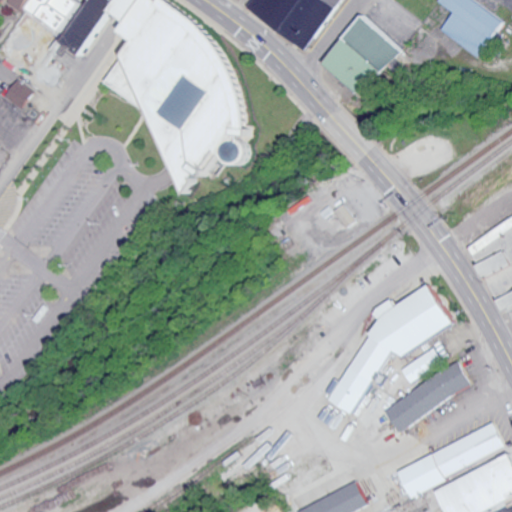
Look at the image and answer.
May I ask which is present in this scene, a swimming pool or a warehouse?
warehouse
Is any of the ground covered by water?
No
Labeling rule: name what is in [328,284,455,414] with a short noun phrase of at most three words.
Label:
warehouse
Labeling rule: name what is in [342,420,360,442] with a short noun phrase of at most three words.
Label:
vehicle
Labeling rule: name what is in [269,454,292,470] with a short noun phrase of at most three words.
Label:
vehicle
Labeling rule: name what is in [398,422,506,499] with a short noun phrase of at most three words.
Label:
building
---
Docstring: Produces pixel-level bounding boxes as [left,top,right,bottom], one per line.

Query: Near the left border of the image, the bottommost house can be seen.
[6,79,36,109]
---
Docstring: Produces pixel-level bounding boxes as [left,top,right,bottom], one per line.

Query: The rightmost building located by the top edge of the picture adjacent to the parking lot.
[102,0,253,196]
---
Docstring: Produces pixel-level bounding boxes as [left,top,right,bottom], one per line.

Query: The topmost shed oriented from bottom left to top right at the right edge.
[468,217,512,254]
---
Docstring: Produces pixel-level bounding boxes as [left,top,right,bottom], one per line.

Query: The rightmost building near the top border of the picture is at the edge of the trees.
[440,0,504,61]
